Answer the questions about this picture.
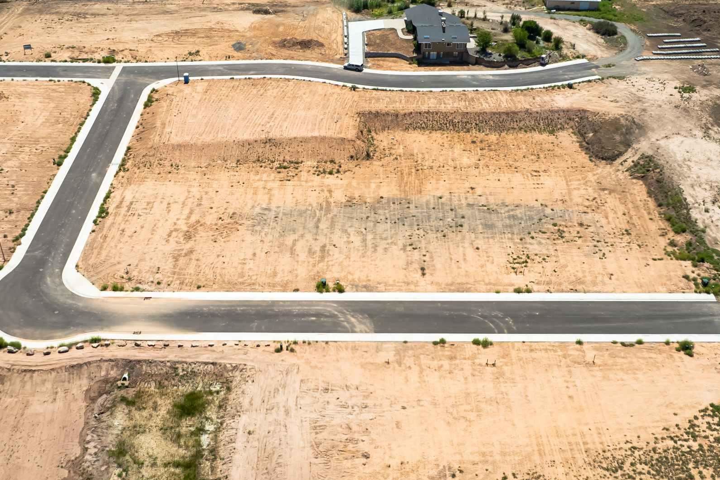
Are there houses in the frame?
Yes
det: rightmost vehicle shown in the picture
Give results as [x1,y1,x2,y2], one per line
[542,52,556,65]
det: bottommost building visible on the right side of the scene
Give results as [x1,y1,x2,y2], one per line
[402,10,472,65]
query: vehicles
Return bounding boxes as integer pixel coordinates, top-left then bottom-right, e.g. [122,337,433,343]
[341,62,362,70]
[542,52,556,65]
